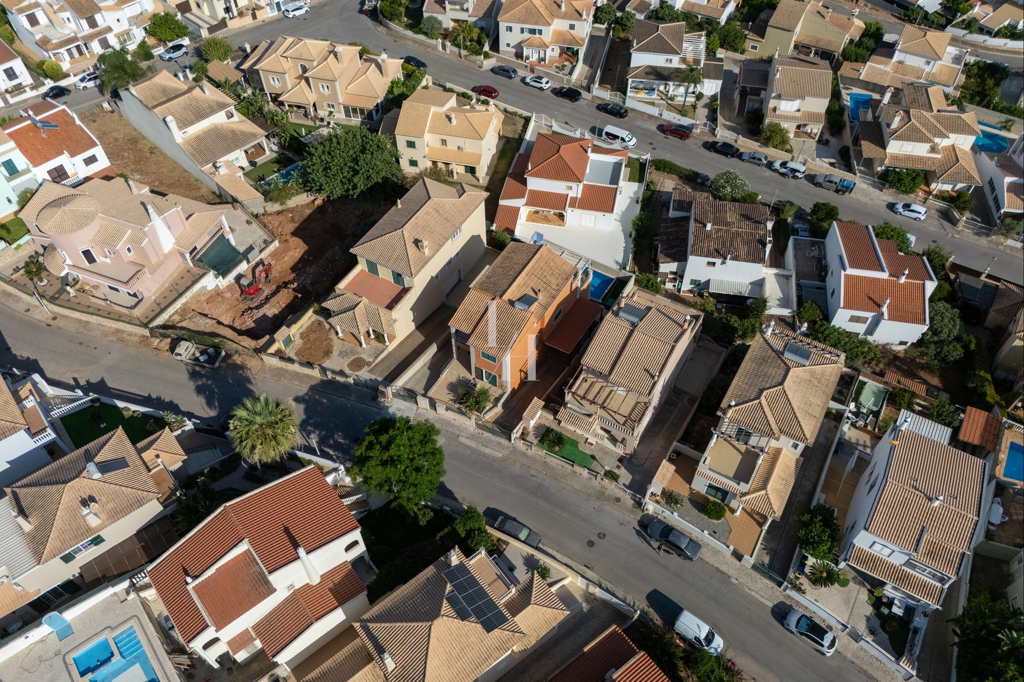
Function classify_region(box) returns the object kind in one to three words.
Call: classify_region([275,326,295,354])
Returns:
shed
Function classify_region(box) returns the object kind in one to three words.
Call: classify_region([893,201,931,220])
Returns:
car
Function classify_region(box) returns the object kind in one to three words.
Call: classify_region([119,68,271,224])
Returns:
house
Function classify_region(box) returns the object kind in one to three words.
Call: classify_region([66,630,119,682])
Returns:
swimming pool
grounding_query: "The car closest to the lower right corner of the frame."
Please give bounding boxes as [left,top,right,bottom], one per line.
[783,608,843,658]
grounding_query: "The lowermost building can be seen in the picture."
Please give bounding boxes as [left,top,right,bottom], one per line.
[545,623,670,682]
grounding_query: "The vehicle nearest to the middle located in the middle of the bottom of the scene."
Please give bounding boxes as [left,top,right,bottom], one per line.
[494,507,551,550]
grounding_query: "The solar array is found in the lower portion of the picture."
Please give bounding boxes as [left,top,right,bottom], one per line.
[442,563,514,634]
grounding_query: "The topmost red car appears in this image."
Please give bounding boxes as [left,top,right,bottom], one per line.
[476,84,503,98]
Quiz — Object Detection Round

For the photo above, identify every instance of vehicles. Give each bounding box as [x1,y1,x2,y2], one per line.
[494,507,551,550]
[73,71,102,90]
[645,517,704,561]
[669,602,729,655]
[284,4,310,17]
[602,123,638,149]
[662,122,695,140]
[813,172,857,194]
[772,158,808,178]
[159,43,188,60]
[555,83,584,102]
[706,139,742,157]
[524,74,552,90]
[168,339,222,370]
[476,84,503,98]
[210,417,234,440]
[493,64,519,78]
[893,201,931,220]
[783,608,843,658]
[597,101,629,117]
[404,52,430,69]
[238,273,273,310]
[40,83,72,98]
